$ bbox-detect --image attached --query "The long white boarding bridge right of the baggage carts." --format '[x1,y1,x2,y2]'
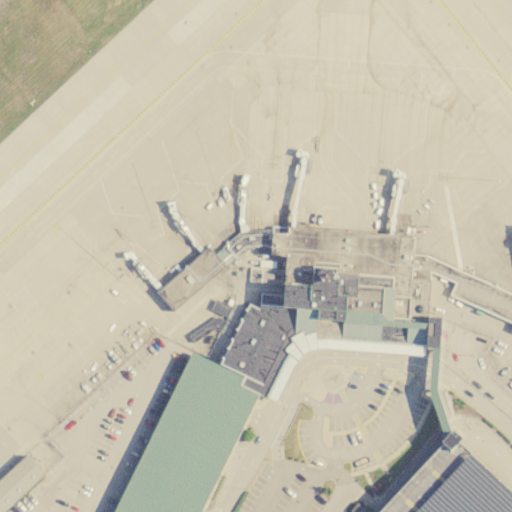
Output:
[387,172,408,232]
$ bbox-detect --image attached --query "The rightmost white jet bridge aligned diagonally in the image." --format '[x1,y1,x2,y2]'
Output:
[164,202,206,252]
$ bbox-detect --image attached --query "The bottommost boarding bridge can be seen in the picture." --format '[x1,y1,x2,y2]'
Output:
[126,253,163,290]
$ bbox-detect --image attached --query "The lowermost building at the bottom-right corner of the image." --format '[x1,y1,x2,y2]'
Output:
[376,446,512,512]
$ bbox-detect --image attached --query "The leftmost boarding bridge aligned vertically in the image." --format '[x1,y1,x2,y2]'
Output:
[238,172,250,232]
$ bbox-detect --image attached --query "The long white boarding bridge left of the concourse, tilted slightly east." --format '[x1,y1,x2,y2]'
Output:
[290,150,310,227]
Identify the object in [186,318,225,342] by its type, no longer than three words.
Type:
shed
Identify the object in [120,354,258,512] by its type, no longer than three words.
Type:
building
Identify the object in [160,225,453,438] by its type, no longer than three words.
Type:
building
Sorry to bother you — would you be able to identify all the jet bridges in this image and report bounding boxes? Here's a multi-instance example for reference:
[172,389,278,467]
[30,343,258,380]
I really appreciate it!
[164,202,206,252]
[387,172,408,232]
[126,253,163,290]
[238,172,250,232]
[290,150,310,227]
